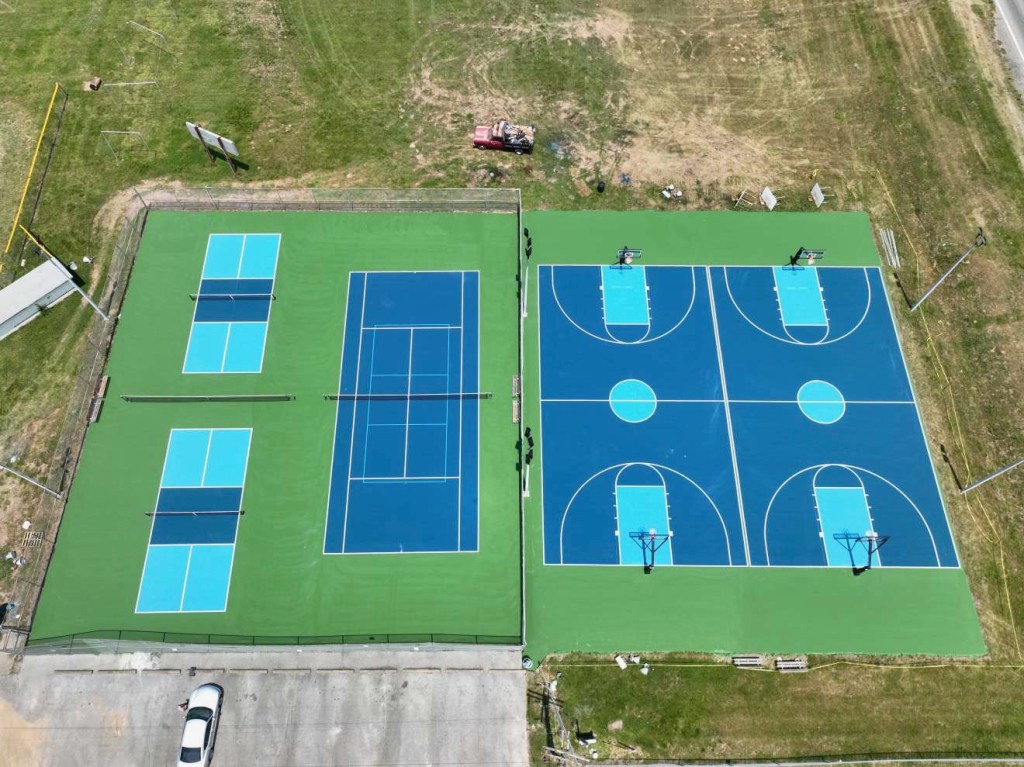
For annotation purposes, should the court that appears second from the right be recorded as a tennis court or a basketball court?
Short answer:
basketball court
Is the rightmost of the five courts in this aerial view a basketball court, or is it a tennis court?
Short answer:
basketball court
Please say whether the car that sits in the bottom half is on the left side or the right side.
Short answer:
left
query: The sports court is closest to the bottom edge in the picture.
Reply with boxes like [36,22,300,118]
[135,428,252,613]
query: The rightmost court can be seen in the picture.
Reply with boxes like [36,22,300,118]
[710,266,959,567]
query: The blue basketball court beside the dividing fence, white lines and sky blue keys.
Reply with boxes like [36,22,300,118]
[537,265,751,566]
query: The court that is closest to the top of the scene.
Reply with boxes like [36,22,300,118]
[183,234,281,373]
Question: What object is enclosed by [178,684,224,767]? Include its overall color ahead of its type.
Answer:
white car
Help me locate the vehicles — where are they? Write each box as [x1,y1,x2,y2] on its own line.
[473,123,537,155]
[178,684,224,767]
